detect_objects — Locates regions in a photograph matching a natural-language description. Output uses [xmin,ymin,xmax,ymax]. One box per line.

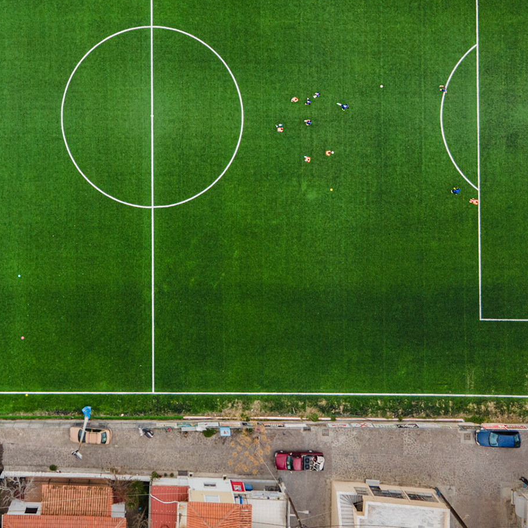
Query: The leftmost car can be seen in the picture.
[68,425,113,447]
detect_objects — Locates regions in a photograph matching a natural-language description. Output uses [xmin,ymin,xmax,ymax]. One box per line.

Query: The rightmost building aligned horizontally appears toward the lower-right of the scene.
[330,472,451,528]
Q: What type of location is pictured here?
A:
sports ground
